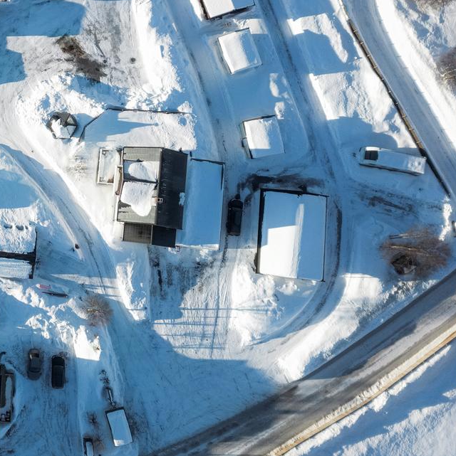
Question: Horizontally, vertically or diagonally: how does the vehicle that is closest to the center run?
vertically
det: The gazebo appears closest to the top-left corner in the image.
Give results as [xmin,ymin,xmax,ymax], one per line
[47,111,78,140]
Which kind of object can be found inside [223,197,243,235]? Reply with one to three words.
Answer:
vehicle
